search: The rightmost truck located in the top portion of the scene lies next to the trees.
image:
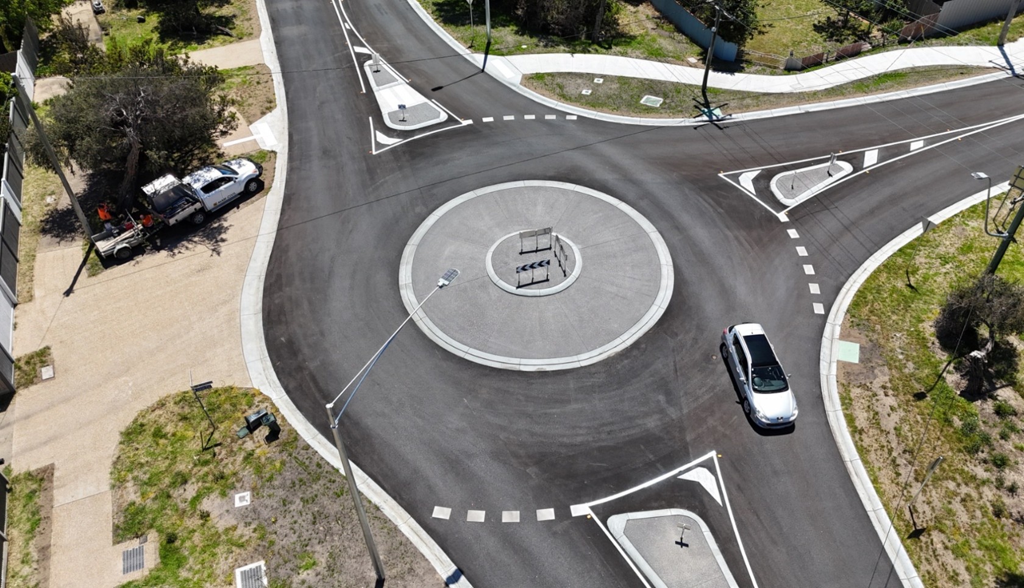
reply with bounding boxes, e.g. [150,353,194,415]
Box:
[145,157,268,231]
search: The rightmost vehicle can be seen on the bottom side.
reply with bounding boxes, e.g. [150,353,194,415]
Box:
[720,326,800,434]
